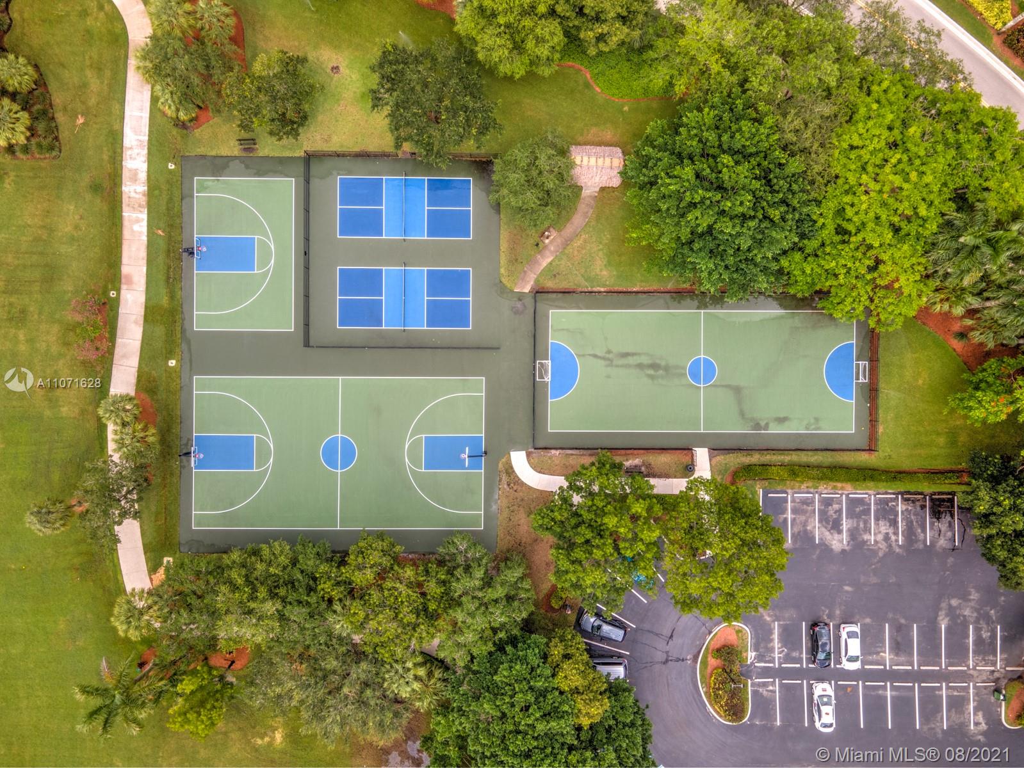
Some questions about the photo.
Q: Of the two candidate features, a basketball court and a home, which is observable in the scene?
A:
basketball court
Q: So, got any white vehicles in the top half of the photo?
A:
No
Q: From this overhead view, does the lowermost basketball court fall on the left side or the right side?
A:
left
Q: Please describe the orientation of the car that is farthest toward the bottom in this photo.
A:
up and down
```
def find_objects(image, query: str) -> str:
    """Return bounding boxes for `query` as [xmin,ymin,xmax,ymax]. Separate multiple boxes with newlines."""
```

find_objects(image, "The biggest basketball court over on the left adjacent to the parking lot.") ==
[193,377,485,530]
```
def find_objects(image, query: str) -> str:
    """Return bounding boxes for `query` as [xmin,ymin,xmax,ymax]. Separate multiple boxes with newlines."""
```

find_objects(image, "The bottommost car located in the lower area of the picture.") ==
[812,681,838,732]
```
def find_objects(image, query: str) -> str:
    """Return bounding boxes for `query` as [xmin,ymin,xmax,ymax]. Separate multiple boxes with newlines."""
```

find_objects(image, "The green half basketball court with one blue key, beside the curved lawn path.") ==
[194,178,294,331]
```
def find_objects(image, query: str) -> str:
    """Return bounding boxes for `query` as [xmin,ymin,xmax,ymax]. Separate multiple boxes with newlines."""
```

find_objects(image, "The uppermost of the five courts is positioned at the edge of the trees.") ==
[337,177,472,239]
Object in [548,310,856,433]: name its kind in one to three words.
sports court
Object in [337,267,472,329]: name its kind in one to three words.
sports court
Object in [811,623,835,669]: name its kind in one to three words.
car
